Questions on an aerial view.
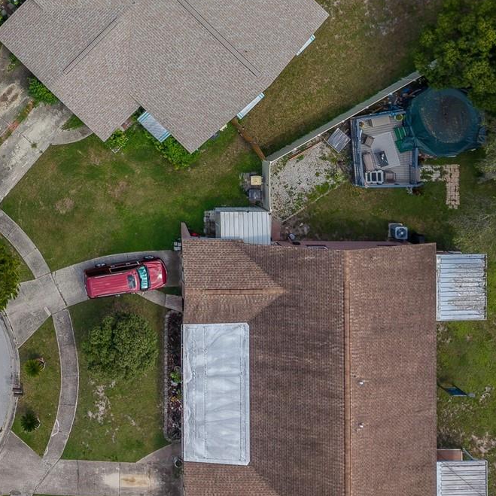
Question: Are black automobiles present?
No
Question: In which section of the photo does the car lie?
left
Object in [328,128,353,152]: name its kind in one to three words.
solar panel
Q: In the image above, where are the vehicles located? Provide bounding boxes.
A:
[82,255,167,299]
